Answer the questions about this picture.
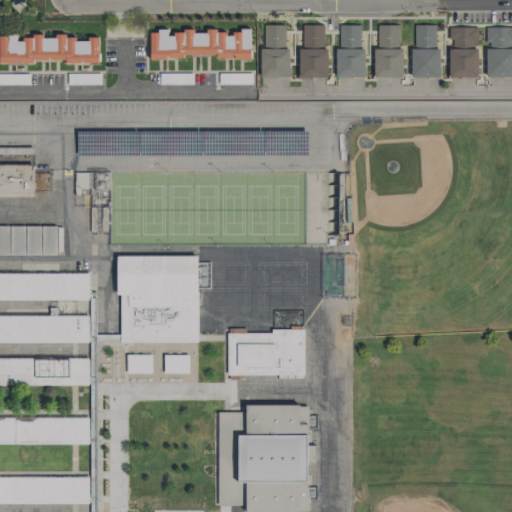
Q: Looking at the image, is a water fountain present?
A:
No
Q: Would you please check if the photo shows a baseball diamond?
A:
Yes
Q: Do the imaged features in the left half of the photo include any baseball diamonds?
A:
No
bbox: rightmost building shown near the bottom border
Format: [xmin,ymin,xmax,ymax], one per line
[219,405,316,512]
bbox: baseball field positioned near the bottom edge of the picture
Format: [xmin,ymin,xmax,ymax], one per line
[353,332,512,512]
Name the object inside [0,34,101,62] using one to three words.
building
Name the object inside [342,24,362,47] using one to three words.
house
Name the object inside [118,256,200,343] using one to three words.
building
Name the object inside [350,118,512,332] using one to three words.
baseball field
